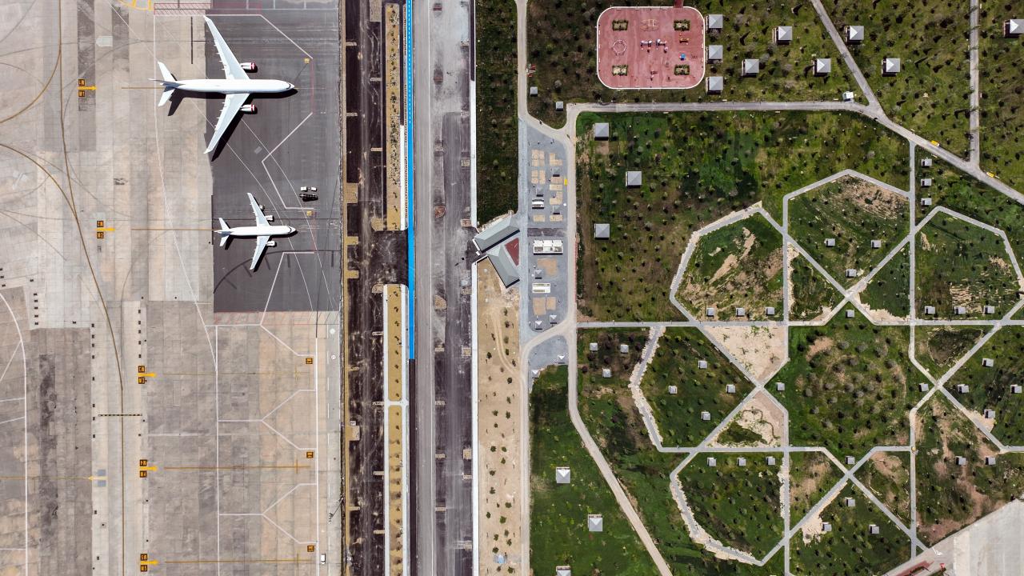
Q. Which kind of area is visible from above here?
airport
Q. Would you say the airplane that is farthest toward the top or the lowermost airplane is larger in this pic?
the airplane that is farthest toward the top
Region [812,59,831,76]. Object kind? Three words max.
building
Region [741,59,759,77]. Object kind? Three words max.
building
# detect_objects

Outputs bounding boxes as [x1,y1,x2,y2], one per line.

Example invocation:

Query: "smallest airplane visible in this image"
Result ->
[214,192,296,269]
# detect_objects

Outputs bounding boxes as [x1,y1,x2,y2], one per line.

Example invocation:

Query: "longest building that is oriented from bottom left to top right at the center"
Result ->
[474,216,520,251]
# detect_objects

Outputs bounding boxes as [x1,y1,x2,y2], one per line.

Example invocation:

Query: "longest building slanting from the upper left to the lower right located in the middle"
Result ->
[487,245,520,287]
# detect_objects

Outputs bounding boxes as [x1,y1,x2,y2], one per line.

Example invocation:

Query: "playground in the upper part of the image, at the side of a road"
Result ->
[598,7,705,88]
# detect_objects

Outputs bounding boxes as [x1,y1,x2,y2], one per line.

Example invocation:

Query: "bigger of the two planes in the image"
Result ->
[148,15,295,153]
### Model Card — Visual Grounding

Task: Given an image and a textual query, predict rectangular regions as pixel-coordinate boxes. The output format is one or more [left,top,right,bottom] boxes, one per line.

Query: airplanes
[148,15,295,153]
[214,192,296,269]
